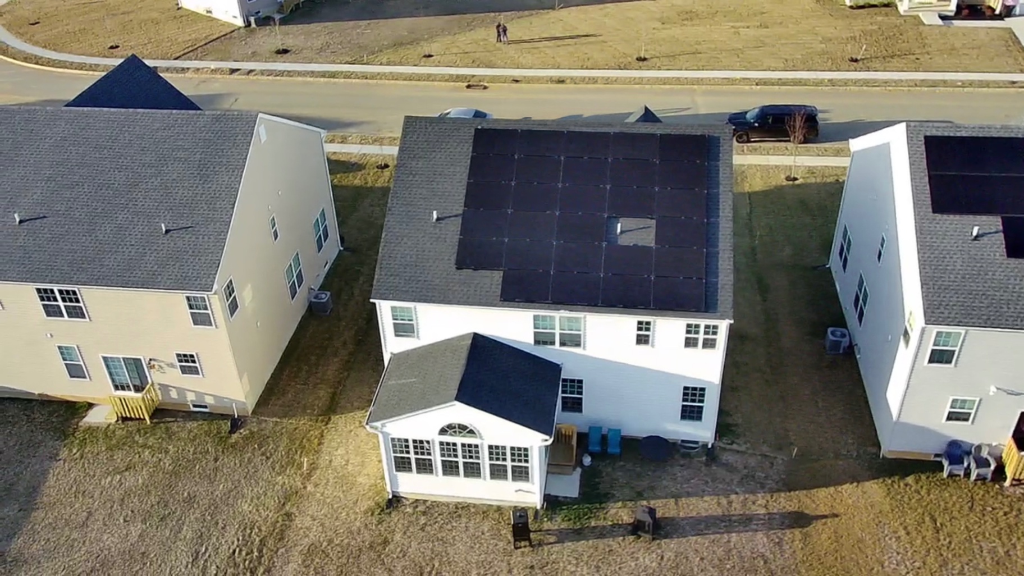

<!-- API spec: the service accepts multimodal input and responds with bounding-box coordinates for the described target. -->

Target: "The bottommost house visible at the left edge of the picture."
[0,54,350,437]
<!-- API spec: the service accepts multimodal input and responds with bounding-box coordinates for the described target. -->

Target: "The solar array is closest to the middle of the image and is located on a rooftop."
[455,128,708,312]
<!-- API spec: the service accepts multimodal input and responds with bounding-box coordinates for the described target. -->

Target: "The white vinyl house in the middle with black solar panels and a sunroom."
[361,105,735,525]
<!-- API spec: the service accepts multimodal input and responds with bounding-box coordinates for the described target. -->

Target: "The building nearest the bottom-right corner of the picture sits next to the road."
[822,123,1024,464]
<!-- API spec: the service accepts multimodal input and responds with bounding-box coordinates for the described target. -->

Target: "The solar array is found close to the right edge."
[926,133,1024,260]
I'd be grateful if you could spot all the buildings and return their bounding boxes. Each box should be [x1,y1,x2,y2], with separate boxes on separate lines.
[843,0,1024,20]
[190,0,338,27]
[822,123,1024,464]
[0,54,350,437]
[361,105,735,525]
